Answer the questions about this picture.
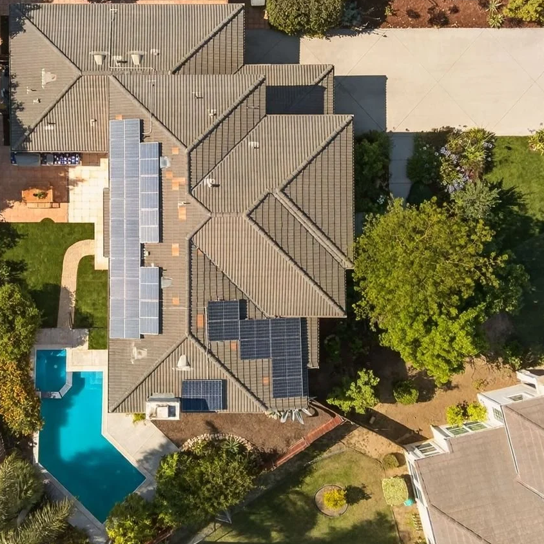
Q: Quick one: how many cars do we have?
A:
none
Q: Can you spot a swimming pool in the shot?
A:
Yes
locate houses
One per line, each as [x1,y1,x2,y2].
[406,367,544,544]
[9,2,355,422]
